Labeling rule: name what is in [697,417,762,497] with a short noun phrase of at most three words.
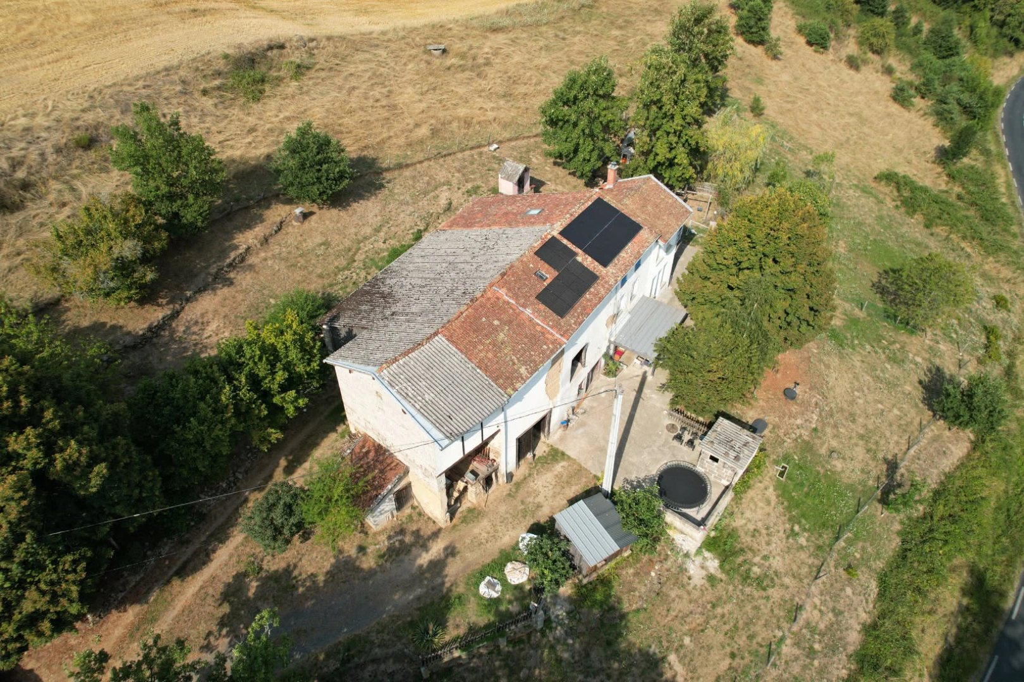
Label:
shed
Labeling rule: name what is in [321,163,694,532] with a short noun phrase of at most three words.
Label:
house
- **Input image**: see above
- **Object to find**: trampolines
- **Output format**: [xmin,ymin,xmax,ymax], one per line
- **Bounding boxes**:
[655,463,712,516]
